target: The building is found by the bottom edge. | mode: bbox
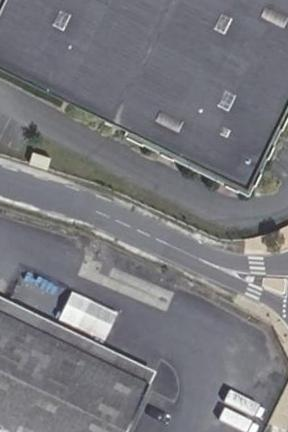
[0,298,156,432]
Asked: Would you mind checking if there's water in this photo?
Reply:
No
